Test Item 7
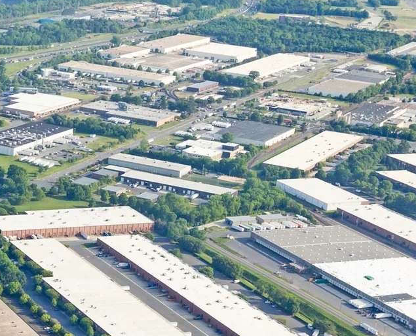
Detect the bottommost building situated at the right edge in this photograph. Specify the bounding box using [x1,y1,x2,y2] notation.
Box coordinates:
[313,257,416,332]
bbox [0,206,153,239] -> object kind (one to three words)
building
